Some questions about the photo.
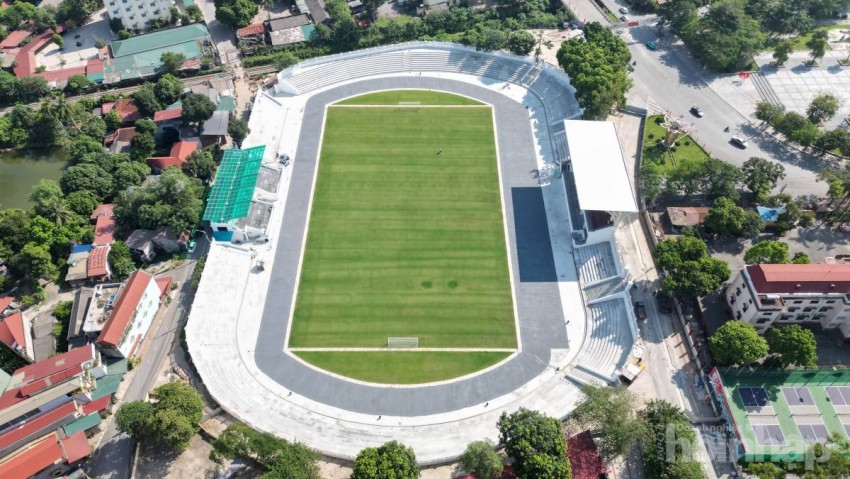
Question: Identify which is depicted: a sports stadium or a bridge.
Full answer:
There is a sports stadium in the scene.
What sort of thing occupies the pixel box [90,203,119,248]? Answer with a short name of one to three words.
house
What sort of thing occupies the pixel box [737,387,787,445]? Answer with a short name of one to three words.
sports court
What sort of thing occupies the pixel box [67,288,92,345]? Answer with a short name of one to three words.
shed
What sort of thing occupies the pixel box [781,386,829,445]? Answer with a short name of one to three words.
sports court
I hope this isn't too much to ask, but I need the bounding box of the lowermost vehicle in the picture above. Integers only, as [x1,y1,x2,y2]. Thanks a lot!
[623,361,643,380]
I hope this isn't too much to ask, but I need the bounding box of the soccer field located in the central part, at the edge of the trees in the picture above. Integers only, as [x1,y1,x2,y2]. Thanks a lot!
[285,88,520,387]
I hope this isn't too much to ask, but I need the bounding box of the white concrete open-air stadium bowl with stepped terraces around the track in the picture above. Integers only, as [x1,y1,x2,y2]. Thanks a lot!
[182,43,637,467]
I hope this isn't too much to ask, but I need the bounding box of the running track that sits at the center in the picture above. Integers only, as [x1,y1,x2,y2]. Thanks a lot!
[255,76,569,416]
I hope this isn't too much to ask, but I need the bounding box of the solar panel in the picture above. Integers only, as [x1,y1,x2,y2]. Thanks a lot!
[0,406,41,430]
